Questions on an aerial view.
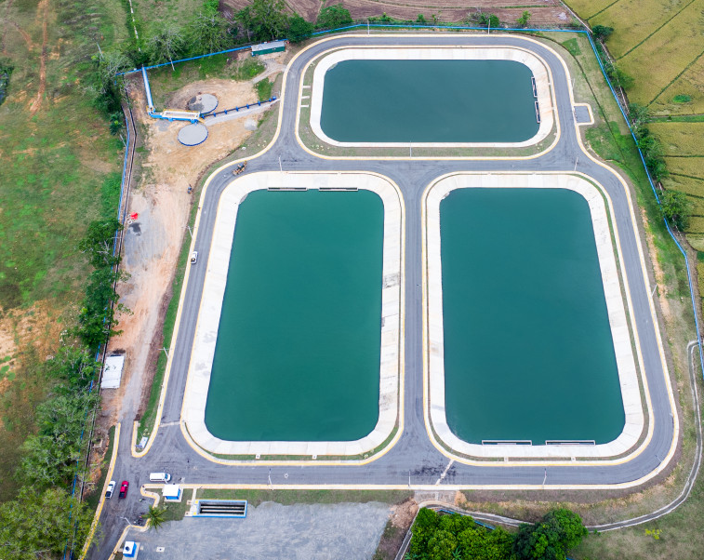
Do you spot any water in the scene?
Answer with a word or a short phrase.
Yes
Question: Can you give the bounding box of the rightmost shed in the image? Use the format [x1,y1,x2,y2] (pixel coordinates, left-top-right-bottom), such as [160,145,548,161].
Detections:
[250,41,285,56]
